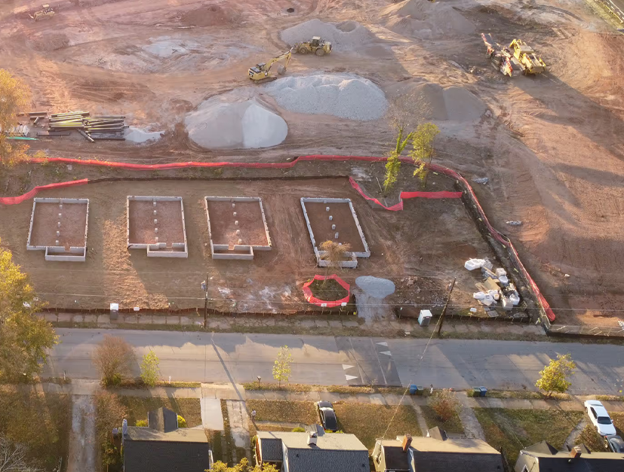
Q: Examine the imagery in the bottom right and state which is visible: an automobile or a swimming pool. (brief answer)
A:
automobile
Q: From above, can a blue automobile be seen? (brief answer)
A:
No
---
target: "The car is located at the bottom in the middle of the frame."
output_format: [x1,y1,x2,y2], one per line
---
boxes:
[313,397,345,431]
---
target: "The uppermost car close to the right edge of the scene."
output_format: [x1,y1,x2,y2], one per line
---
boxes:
[580,397,624,432]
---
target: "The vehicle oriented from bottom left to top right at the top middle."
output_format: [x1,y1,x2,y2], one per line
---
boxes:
[247,45,292,84]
